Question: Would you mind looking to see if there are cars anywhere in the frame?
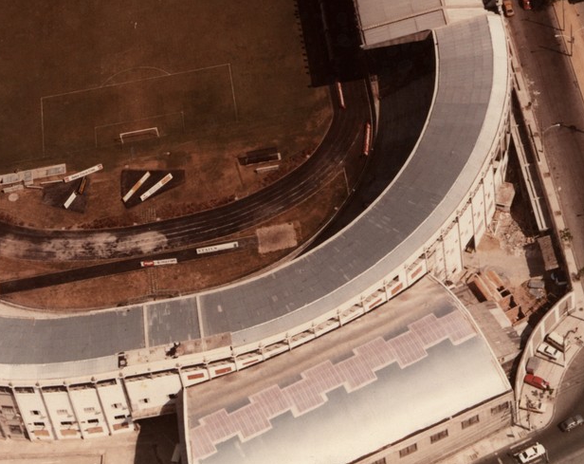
Yes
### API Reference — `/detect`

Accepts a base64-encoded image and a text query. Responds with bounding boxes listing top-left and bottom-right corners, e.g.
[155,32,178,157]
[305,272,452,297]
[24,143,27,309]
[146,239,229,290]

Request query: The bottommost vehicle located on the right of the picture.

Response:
[518,442,545,463]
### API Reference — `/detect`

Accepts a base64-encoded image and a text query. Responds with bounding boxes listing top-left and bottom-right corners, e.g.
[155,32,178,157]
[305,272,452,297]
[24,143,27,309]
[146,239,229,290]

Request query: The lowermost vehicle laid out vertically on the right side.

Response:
[527,347,541,372]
